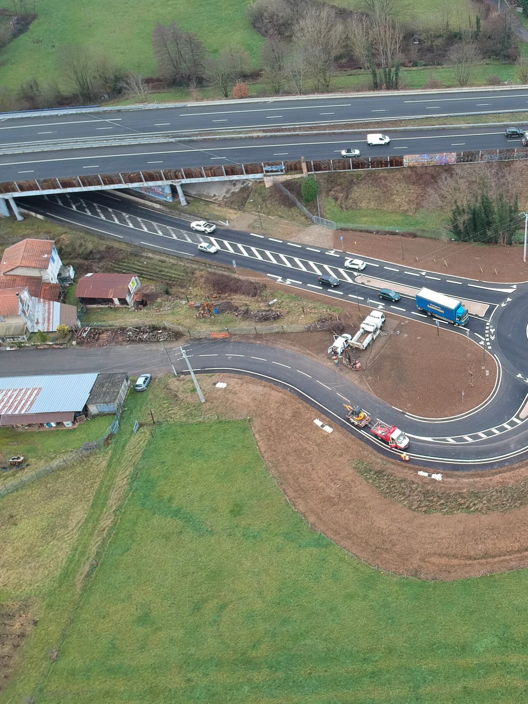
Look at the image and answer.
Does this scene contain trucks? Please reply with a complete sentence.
Yes, the photo shows a truck.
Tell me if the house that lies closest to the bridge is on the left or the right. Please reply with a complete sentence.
The house that lies closest to the bridge sits on the left side.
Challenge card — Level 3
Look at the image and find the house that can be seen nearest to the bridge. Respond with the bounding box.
[7,235,66,287]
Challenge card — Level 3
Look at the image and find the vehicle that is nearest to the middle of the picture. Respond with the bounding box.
[326,334,351,355]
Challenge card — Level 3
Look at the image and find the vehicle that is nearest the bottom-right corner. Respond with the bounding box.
[371,418,411,450]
